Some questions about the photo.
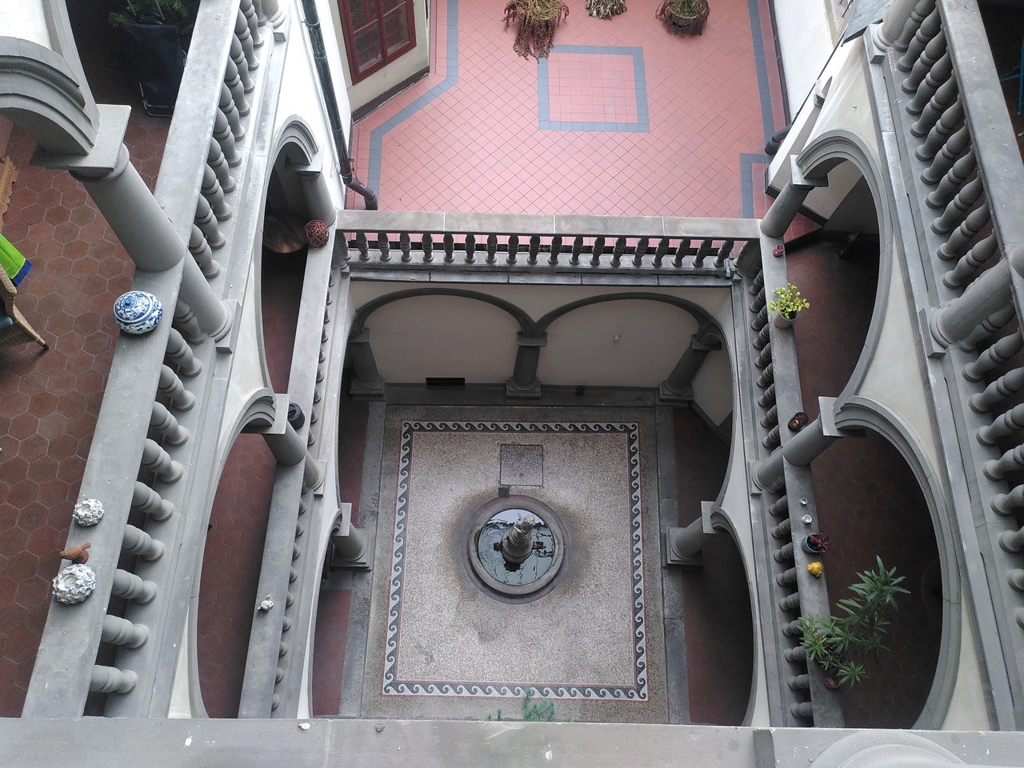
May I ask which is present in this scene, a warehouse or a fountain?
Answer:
fountain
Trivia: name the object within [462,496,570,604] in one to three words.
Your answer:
fountain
